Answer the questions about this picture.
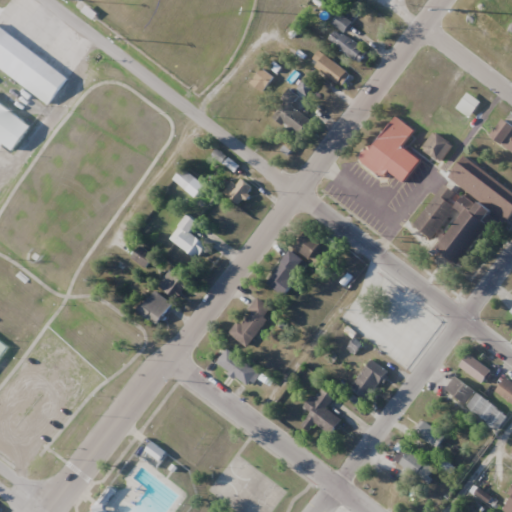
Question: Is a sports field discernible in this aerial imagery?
Yes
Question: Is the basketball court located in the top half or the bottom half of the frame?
bottom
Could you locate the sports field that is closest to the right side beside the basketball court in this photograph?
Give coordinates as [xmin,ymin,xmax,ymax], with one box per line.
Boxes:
[156,394,223,466]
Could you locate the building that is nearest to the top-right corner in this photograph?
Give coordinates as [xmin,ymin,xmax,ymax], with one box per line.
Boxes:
[455,92,480,117]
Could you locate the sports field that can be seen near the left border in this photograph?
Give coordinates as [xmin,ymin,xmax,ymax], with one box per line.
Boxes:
[0,330,104,462]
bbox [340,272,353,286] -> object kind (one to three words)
vehicle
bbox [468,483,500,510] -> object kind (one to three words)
shed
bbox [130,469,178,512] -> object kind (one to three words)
swimming pool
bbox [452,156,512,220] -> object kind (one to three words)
building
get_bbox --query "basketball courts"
[210,456,288,512]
